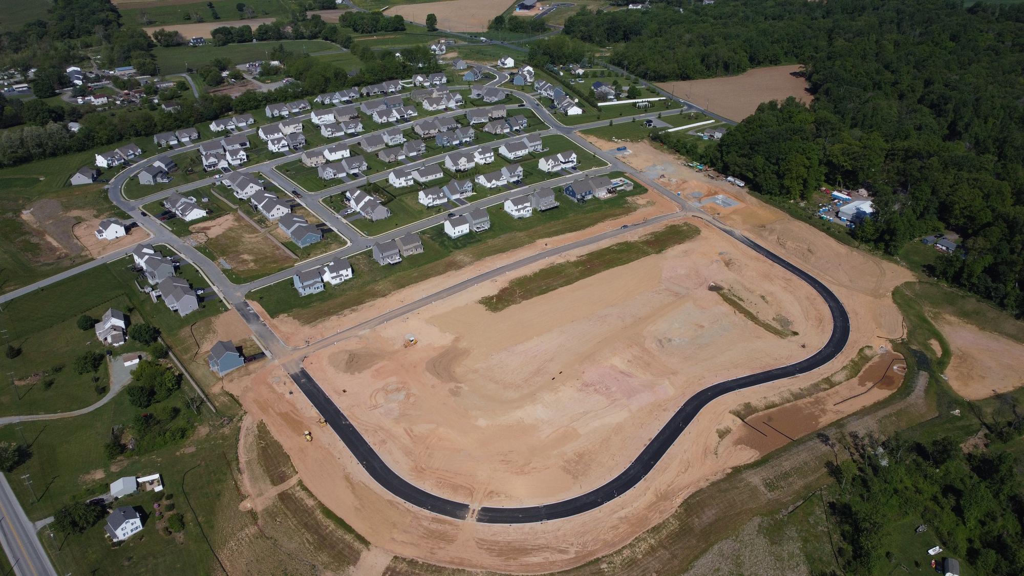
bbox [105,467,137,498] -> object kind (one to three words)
building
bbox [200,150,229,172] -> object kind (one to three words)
house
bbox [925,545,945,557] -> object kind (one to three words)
boat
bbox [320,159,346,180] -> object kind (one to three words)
house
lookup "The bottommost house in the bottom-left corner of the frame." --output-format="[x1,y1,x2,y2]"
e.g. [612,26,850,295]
[101,497,143,545]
